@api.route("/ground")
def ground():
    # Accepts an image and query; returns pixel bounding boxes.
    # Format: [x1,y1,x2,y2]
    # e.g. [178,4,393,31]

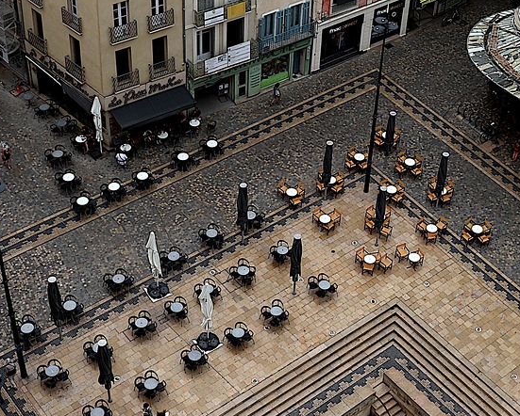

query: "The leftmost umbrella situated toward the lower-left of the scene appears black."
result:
[47,277,64,342]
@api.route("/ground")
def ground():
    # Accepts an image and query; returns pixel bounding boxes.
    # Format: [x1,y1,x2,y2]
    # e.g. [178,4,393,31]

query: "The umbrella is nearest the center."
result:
[237,184,250,245]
